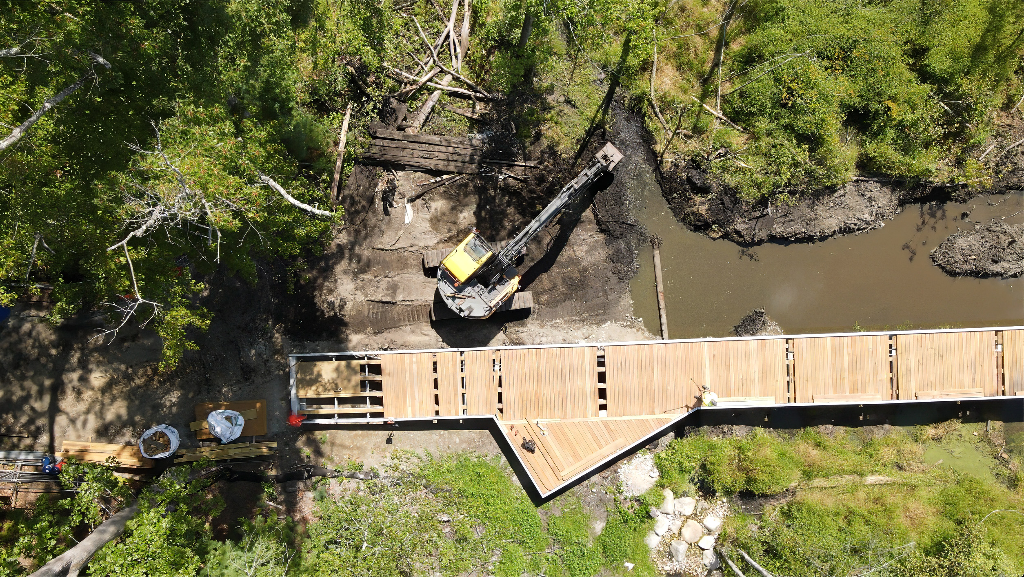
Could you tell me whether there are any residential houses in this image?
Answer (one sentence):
No, there isn't any residential house down there.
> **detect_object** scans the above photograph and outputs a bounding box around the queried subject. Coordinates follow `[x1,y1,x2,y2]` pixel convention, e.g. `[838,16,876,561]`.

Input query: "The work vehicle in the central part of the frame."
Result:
[421,142,626,323]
